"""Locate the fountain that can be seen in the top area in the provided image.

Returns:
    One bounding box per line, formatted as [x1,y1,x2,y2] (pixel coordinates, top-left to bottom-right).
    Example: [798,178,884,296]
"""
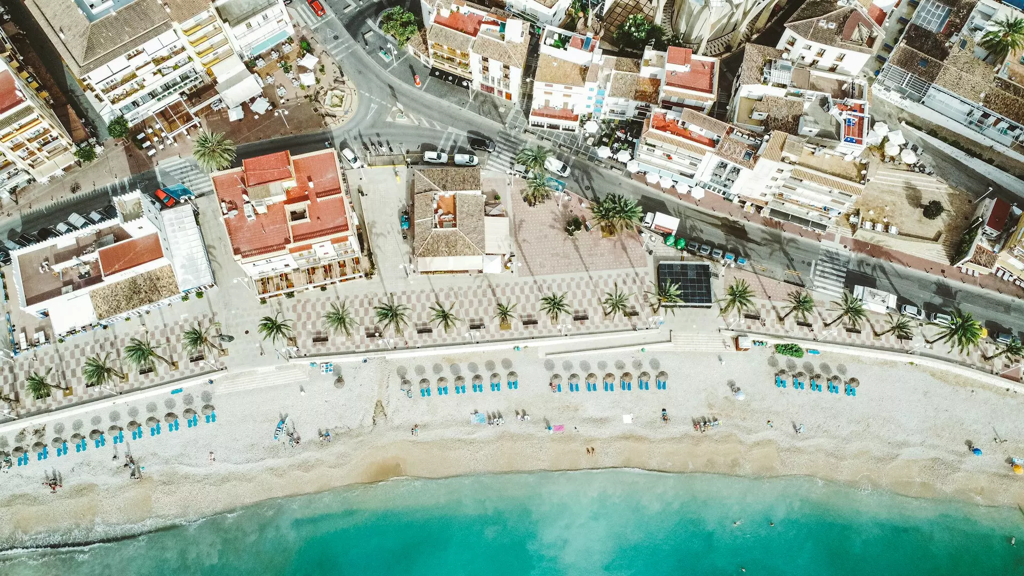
[324,89,347,111]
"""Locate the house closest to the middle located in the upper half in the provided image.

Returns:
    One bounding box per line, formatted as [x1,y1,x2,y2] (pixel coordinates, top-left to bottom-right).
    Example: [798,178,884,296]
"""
[414,167,486,260]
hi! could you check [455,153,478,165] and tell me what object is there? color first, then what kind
white vehicle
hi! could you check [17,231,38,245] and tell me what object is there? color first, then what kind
black car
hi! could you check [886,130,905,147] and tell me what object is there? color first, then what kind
white umbrella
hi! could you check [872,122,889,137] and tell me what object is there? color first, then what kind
white umbrella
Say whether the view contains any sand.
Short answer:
Yes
